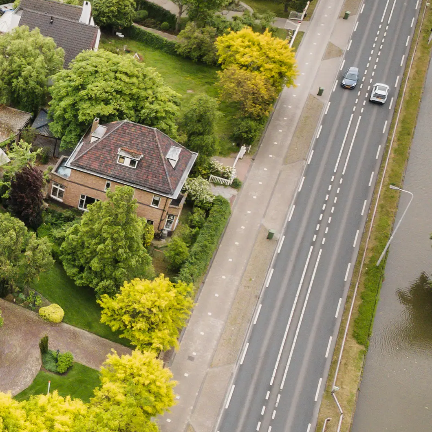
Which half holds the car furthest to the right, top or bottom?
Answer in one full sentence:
Seen from above, the car furthest to the right lies in the top half of the view.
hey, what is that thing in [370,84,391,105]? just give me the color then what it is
white car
